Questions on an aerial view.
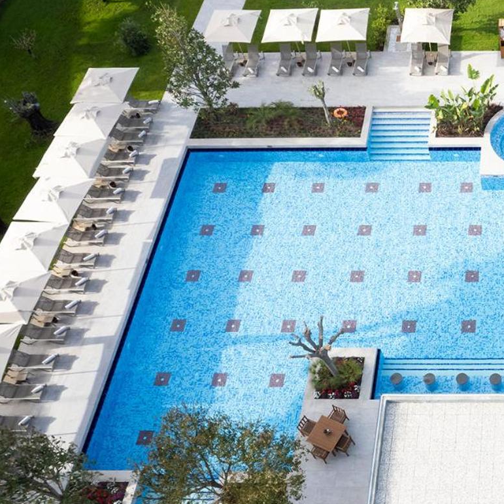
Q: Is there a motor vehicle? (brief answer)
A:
No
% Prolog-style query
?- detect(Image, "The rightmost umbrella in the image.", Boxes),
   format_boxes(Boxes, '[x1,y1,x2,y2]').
[405,9,458,57]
